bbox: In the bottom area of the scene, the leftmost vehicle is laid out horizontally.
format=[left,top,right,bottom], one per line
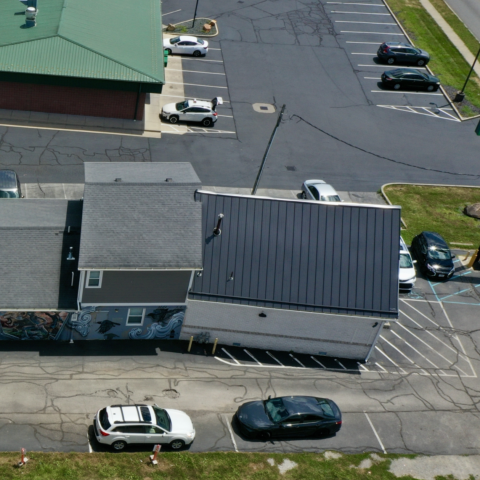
[93,402,199,450]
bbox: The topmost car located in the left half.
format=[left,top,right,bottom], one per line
[164,34,211,56]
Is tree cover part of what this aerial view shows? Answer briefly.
No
